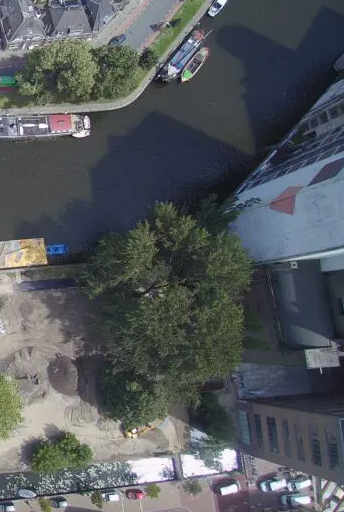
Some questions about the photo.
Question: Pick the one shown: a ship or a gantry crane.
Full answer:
Visible in the photo is a ship.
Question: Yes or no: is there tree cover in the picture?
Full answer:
Yes, tree cover can be seen from above here.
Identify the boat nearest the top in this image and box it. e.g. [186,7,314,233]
[191,0,225,31]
